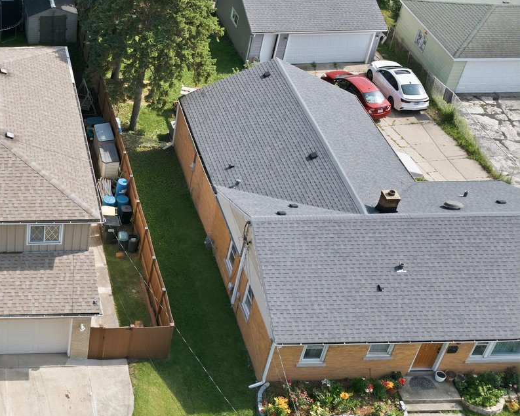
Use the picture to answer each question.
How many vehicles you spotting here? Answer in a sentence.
The photo contains 2 vehicles.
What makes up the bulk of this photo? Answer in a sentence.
The bulk of the photo consists of buildings.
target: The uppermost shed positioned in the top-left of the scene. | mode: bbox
[27,0,81,43]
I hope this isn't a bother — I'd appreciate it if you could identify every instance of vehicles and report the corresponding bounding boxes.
[329,67,402,122]
[365,57,429,110]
